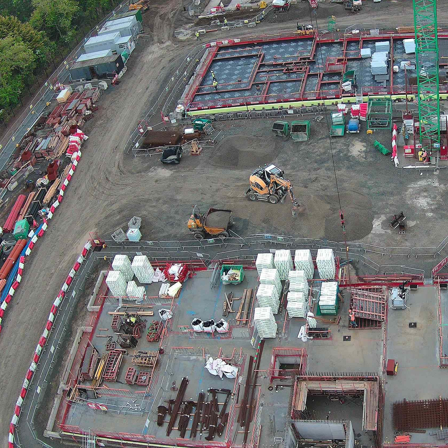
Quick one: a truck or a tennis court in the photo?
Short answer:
truck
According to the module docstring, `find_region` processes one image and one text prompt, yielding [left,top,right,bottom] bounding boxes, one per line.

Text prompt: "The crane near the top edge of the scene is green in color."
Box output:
[412,0,440,152]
